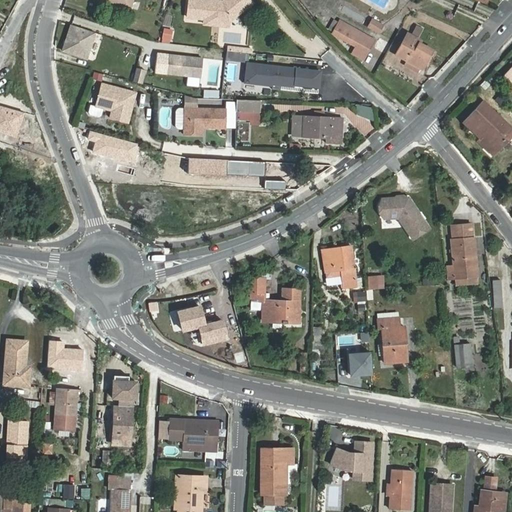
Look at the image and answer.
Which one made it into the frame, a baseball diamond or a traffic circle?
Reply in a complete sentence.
The one in the frame is a traffic circle.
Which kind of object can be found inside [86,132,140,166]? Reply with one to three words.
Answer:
house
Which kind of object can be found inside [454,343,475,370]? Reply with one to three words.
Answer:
building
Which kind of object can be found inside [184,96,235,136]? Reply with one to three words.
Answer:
house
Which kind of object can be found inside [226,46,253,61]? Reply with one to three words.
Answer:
shed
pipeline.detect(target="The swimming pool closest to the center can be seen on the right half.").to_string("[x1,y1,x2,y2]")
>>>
[336,335,356,347]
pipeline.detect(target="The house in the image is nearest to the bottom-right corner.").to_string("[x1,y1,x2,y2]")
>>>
[474,476,509,512]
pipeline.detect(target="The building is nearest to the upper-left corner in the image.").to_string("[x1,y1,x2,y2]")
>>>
[62,24,96,59]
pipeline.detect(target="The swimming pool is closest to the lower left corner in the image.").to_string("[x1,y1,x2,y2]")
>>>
[162,446,180,458]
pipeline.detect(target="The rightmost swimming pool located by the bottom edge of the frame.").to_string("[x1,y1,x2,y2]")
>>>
[328,484,342,509]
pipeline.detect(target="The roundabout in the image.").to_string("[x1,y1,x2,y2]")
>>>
[68,230,144,307]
